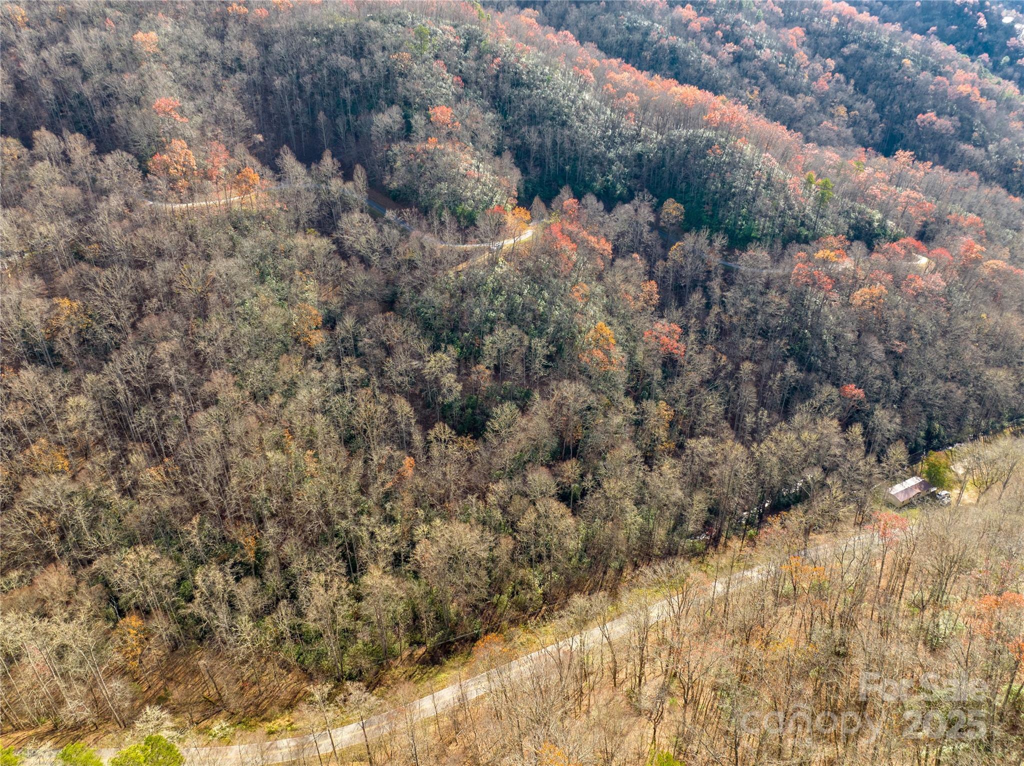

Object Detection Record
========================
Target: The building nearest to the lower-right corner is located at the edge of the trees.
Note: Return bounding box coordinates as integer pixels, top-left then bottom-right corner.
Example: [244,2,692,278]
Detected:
[884,478,933,508]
